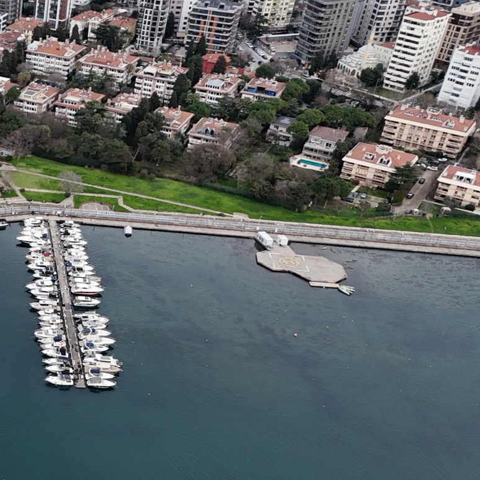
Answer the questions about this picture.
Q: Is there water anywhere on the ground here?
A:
Yes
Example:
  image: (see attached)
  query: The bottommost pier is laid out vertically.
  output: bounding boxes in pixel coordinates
[63,304,86,390]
